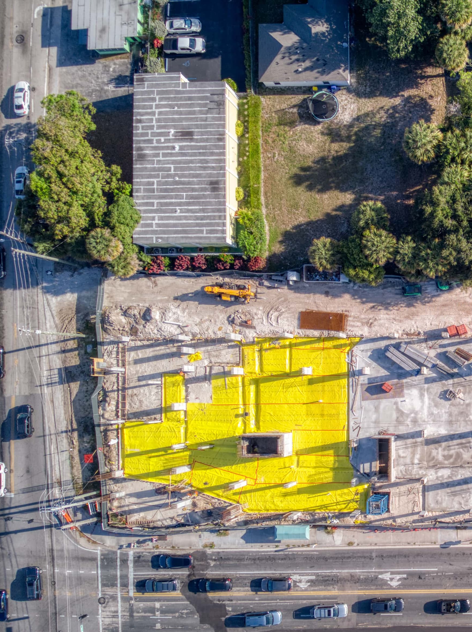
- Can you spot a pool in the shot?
No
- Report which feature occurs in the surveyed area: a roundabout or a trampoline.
trampoline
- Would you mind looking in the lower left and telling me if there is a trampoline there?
No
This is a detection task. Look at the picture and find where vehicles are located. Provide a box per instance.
[371,597,404,615]
[438,598,470,614]
[403,284,421,298]
[14,405,35,439]
[0,462,8,496]
[23,566,44,601]
[206,281,260,304]
[163,35,206,55]
[245,611,283,628]
[166,17,202,34]
[314,603,349,620]
[0,345,8,378]
[12,82,31,116]
[261,576,293,593]
[152,554,193,570]
[10,166,28,199]
[0,590,10,621]
[197,576,235,594]
[145,576,180,595]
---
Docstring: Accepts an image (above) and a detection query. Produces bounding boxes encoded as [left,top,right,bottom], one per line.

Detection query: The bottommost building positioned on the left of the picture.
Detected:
[132,72,240,251]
